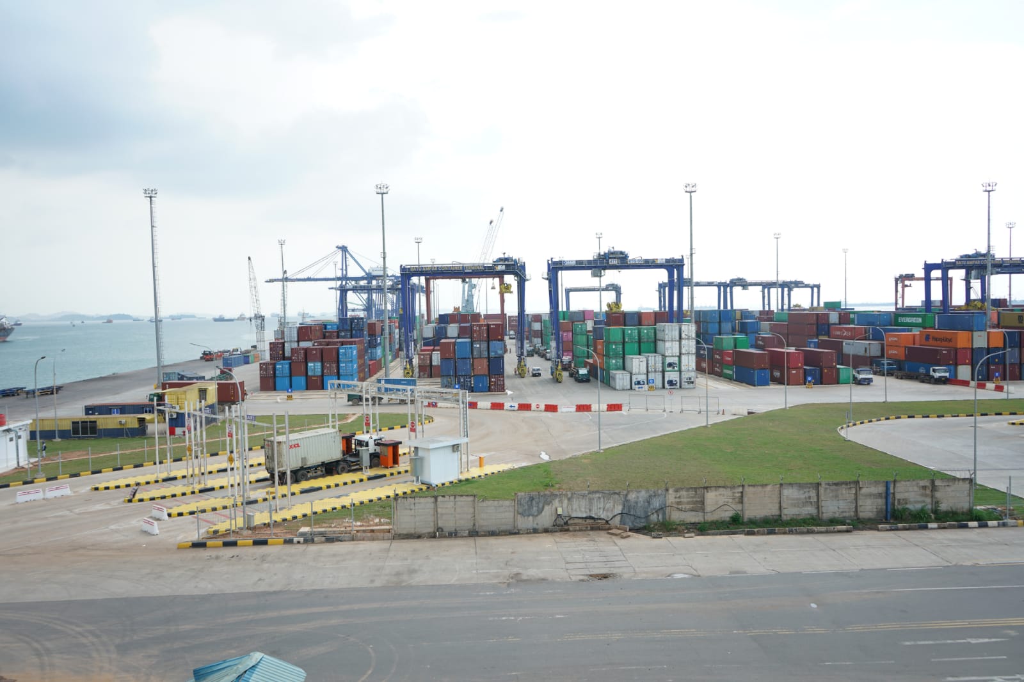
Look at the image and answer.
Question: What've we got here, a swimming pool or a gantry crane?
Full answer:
This aerial view contains a gantry crane.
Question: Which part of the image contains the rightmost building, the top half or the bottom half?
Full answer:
The rightmost building sits in the bottom half of the picture.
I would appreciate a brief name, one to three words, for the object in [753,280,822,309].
container crane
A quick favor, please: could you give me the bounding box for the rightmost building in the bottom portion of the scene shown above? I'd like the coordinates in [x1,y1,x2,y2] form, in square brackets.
[397,430,468,485]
